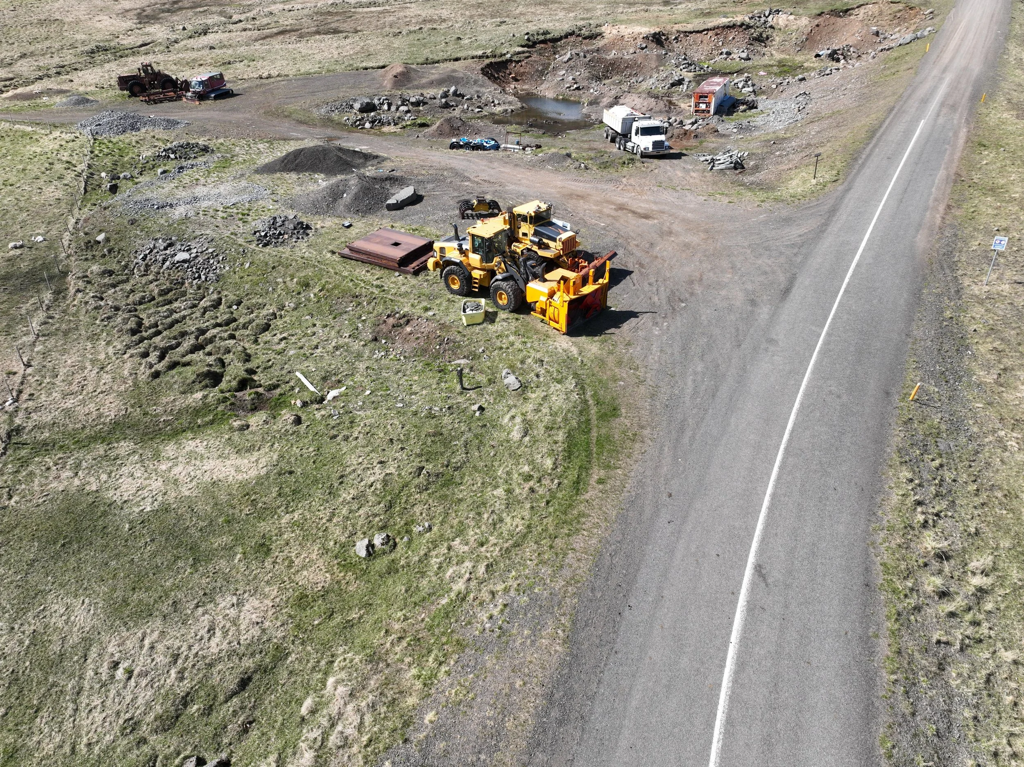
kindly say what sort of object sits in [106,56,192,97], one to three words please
work vehicle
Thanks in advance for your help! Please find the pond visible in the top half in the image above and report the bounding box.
[492,90,592,139]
